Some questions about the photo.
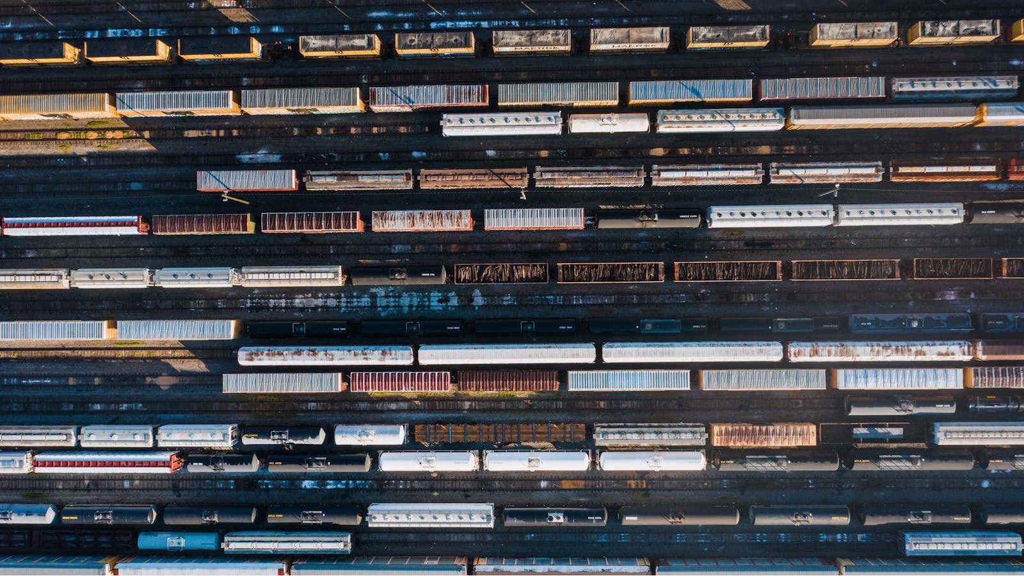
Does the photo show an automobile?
Yes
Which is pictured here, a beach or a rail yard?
rail yard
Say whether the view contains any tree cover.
No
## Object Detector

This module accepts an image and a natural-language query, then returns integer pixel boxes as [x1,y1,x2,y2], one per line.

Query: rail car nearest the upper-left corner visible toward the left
[0,92,121,120]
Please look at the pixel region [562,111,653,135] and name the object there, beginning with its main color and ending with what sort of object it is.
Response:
white rail car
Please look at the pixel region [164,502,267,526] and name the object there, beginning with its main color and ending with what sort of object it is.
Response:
black rail car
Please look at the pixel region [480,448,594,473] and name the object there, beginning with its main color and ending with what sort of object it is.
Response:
white rail car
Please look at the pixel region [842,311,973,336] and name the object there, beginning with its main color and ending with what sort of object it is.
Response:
black rail car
